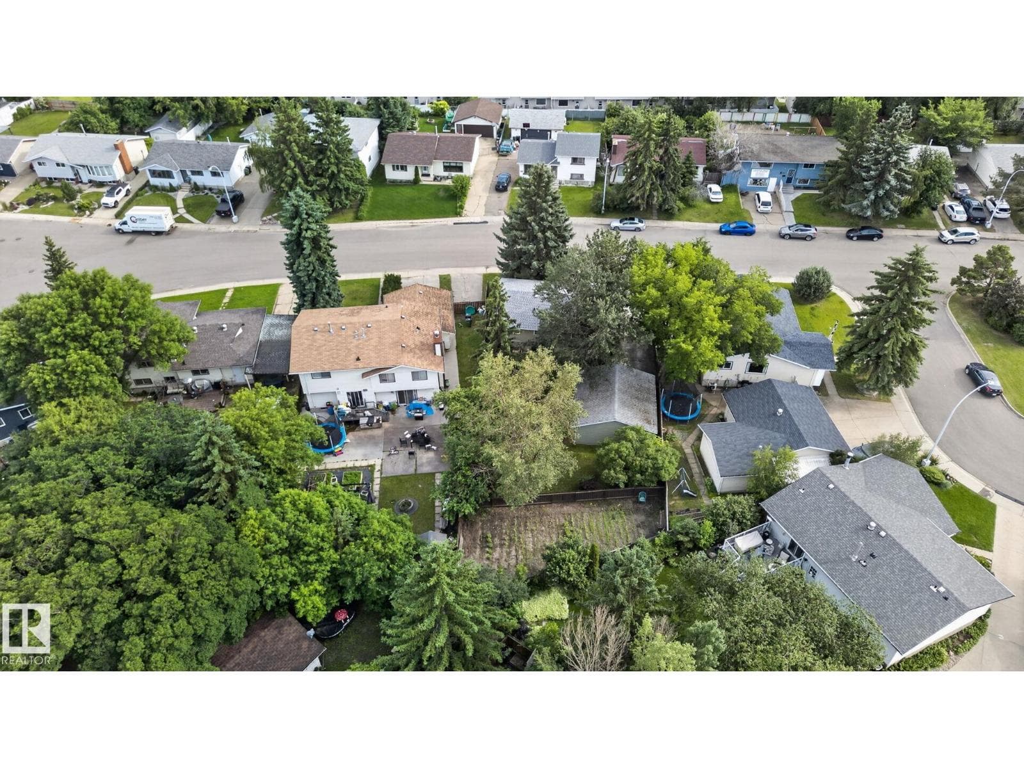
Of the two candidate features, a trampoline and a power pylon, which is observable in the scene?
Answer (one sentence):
Looking from above, you can make out a trampoline.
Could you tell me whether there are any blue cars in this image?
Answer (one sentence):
Yes, the image includes a blue car.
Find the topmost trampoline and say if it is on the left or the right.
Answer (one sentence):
You can find the topmost trampoline on the right side of the picture.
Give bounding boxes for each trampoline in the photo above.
[303,412,350,461]
[660,379,704,427]
[318,606,365,656]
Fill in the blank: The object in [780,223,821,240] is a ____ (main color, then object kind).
gray car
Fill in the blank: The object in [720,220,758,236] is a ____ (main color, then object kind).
blue car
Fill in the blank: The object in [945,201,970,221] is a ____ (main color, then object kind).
white car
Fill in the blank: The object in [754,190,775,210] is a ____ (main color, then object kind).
white car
